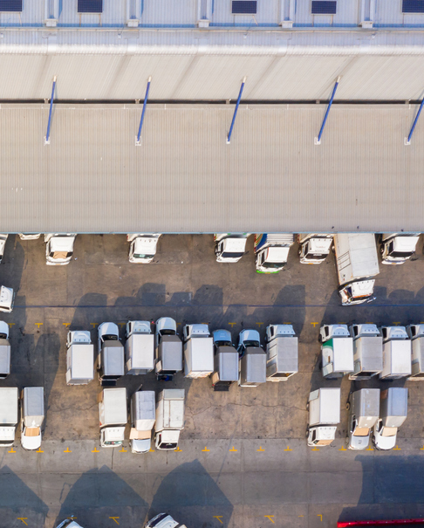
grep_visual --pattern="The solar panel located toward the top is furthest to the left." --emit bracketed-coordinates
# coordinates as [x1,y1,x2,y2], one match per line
[0,0,23,23]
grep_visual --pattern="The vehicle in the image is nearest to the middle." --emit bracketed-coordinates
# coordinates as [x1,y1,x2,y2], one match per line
[215,235,245,263]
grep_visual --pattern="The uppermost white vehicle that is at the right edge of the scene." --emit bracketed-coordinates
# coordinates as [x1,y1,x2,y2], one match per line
[381,235,417,266]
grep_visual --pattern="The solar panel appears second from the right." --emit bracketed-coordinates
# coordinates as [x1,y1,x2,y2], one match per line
[312,0,338,24]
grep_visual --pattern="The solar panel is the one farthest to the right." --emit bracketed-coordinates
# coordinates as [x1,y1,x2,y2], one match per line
[403,0,424,24]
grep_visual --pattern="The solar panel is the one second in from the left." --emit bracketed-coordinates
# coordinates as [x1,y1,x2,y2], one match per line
[77,0,103,23]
